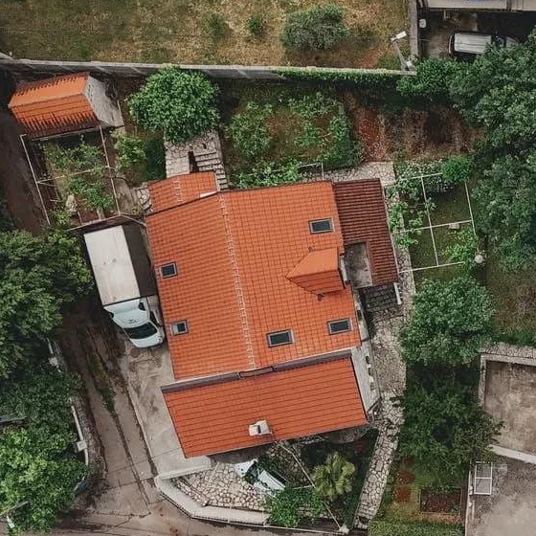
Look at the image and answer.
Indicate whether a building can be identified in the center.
Yes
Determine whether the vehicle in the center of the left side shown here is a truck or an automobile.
truck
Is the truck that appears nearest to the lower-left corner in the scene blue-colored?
No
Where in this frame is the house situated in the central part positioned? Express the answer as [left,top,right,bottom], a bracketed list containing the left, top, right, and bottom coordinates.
[142,172,402,459]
